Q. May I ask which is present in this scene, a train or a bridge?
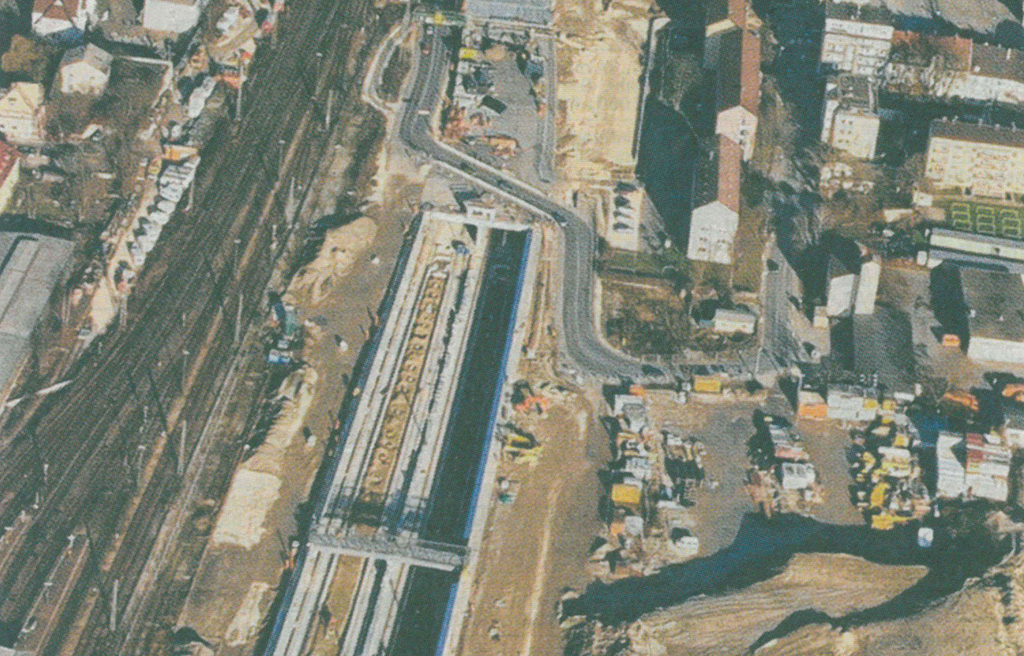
bridge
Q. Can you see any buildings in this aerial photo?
Yes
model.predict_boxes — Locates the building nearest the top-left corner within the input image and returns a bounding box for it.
[22,0,88,34]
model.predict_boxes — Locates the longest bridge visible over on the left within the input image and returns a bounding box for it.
[303,513,480,567]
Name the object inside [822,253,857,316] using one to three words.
building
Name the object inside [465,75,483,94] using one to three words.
vehicle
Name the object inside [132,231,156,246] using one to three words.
vehicle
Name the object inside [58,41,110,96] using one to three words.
house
